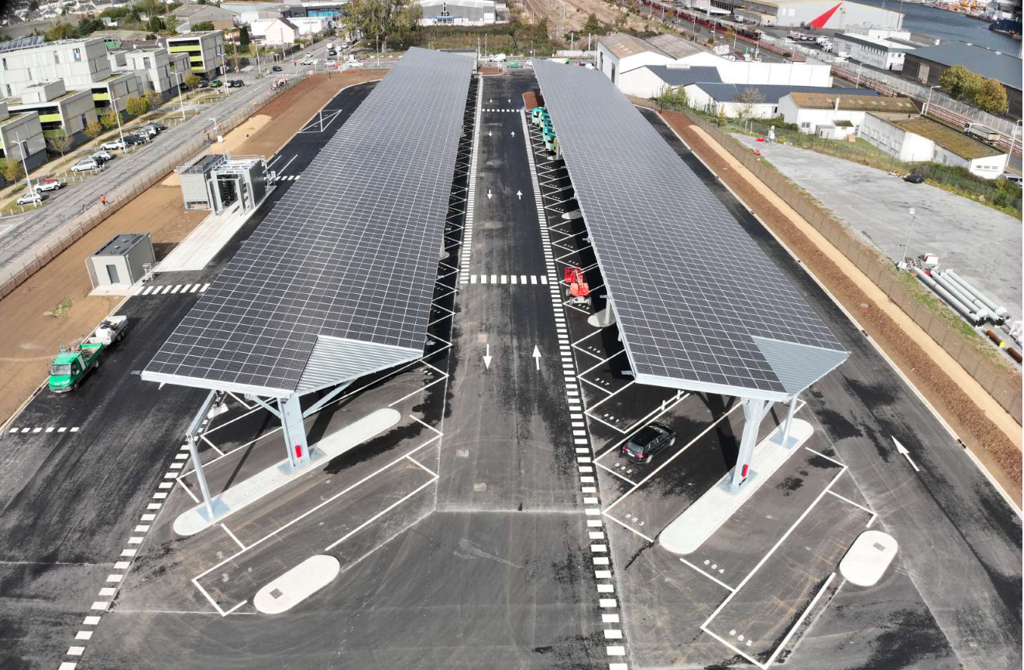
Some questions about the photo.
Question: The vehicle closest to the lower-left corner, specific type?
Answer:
truck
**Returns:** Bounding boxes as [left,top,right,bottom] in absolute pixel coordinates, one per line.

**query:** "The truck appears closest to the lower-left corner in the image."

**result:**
[48,333,111,383]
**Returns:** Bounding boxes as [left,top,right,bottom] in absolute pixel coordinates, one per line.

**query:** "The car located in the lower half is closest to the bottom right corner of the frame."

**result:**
[622,418,680,464]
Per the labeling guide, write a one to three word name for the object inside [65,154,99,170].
car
